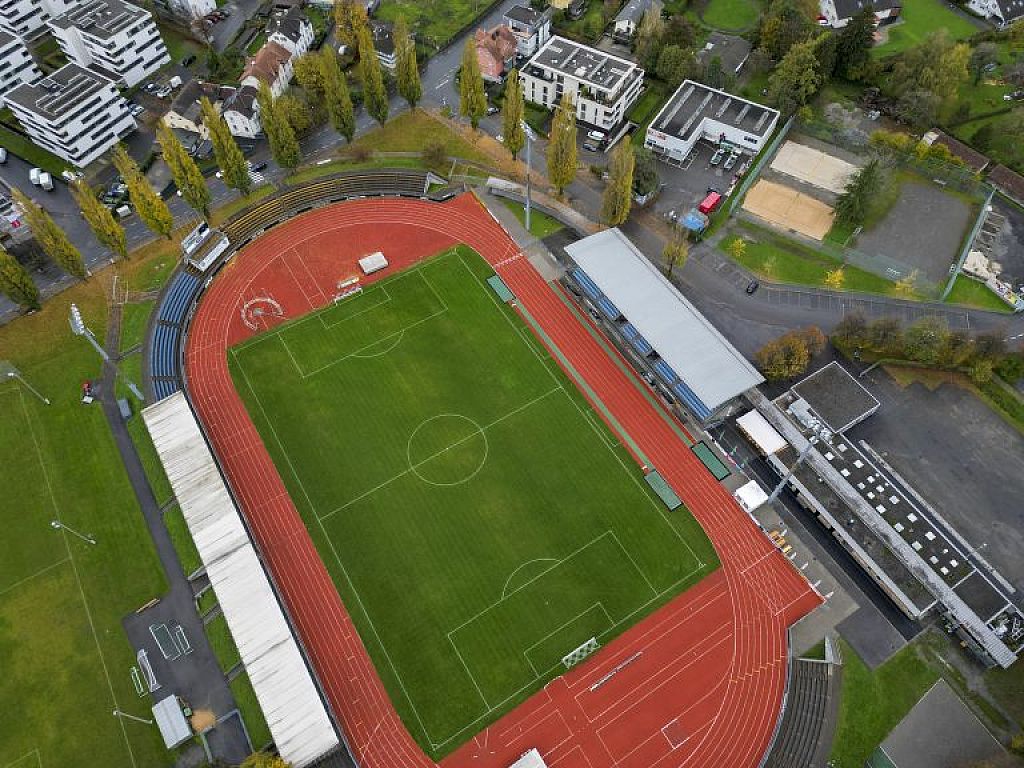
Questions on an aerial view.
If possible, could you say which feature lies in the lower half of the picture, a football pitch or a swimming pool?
football pitch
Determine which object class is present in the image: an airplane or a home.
home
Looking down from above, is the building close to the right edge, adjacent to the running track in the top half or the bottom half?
bottom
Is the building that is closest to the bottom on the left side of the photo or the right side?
left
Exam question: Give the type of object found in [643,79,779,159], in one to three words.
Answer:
building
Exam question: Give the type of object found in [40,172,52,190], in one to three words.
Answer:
vehicle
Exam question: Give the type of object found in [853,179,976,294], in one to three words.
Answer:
sports court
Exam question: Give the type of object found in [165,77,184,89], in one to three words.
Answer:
vehicle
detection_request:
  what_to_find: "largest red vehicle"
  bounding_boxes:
[700,195,721,214]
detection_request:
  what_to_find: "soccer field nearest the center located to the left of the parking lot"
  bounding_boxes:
[228,243,722,766]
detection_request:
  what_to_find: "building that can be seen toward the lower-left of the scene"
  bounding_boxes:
[152,691,197,749]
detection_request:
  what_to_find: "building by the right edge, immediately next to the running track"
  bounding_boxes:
[741,360,1024,669]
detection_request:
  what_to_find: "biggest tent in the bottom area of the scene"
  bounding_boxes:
[732,482,770,516]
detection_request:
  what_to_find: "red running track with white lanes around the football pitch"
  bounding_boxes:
[185,192,822,768]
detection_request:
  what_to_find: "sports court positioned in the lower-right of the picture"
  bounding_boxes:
[867,678,1021,768]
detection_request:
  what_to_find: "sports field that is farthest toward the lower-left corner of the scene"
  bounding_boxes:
[0,350,180,768]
